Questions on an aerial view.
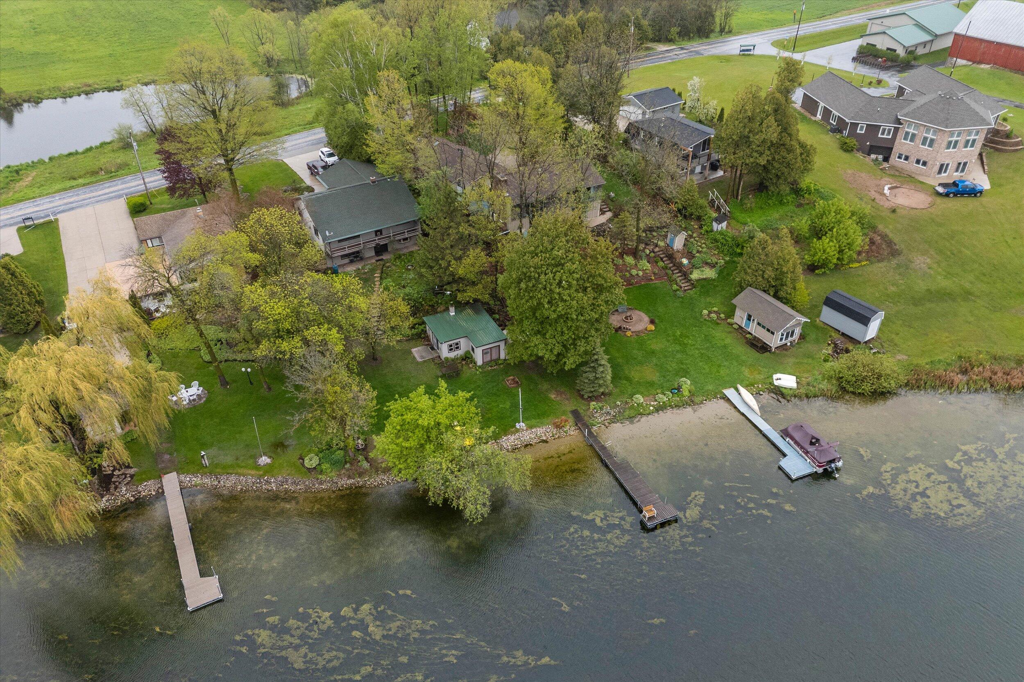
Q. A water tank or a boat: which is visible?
boat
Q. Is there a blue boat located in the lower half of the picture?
No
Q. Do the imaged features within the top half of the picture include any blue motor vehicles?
Yes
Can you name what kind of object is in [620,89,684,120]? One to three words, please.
building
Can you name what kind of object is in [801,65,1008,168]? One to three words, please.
house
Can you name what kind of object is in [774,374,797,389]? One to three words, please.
boat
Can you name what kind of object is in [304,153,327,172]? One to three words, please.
vehicle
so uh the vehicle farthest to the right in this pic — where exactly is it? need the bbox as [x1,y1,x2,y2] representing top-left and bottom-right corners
[936,179,989,197]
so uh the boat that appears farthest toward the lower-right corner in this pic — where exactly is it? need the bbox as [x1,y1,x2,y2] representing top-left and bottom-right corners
[780,423,840,479]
